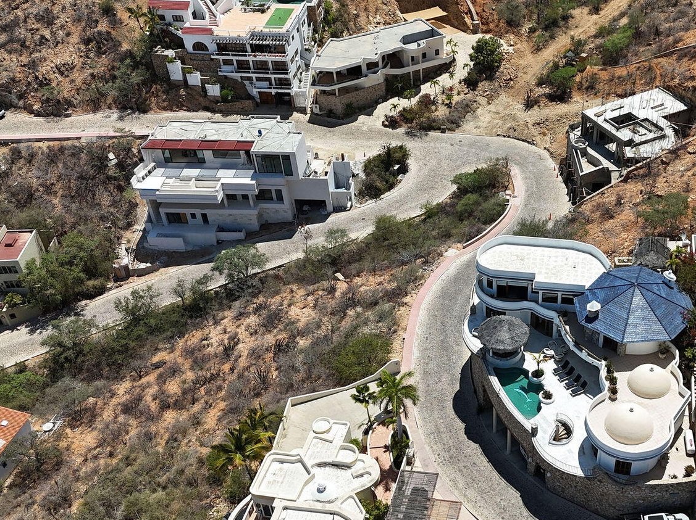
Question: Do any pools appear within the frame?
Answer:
Yes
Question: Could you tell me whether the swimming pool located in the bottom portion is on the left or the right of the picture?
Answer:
right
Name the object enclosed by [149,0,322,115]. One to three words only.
house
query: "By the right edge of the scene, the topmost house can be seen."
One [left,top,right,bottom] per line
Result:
[556,85,689,212]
